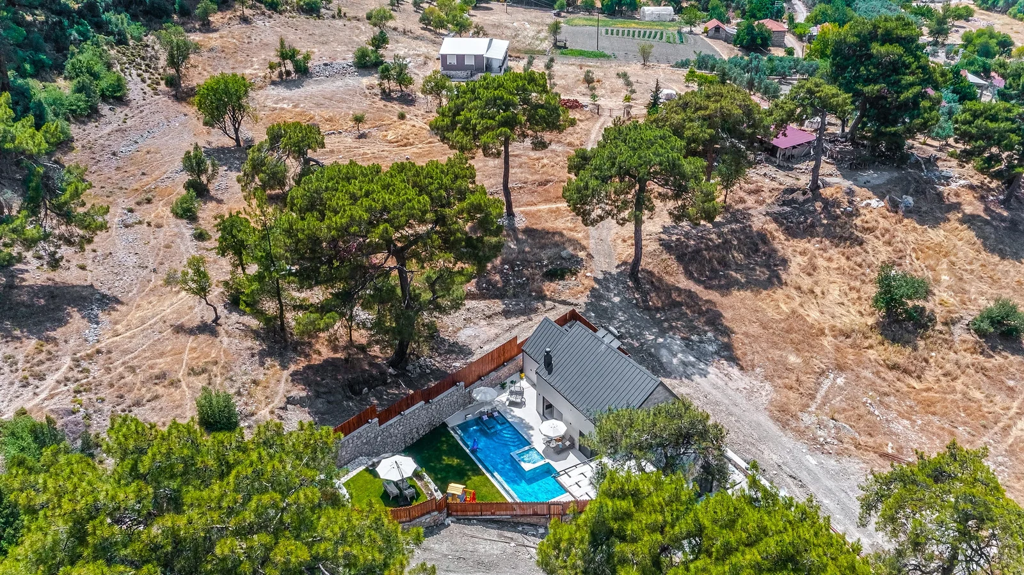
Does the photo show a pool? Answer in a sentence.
Yes, you can see a pool in this photo.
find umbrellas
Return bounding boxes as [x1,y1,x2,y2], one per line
[374,456,420,509]
[540,425,568,453]
[473,384,496,408]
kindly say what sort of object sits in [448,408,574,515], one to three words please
swimming pool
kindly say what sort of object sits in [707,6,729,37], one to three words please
house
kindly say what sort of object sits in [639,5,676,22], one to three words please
greenhouse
